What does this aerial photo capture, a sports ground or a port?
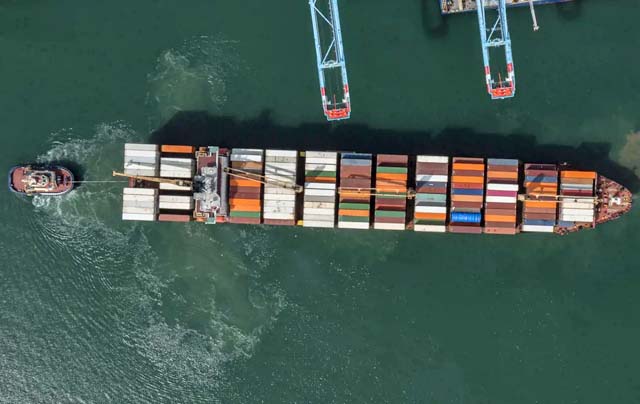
port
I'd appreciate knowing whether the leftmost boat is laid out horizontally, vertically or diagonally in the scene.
horizontally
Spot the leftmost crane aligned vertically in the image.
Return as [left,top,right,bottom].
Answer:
[309,0,351,122]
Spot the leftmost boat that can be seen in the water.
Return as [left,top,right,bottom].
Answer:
[6,164,74,196]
